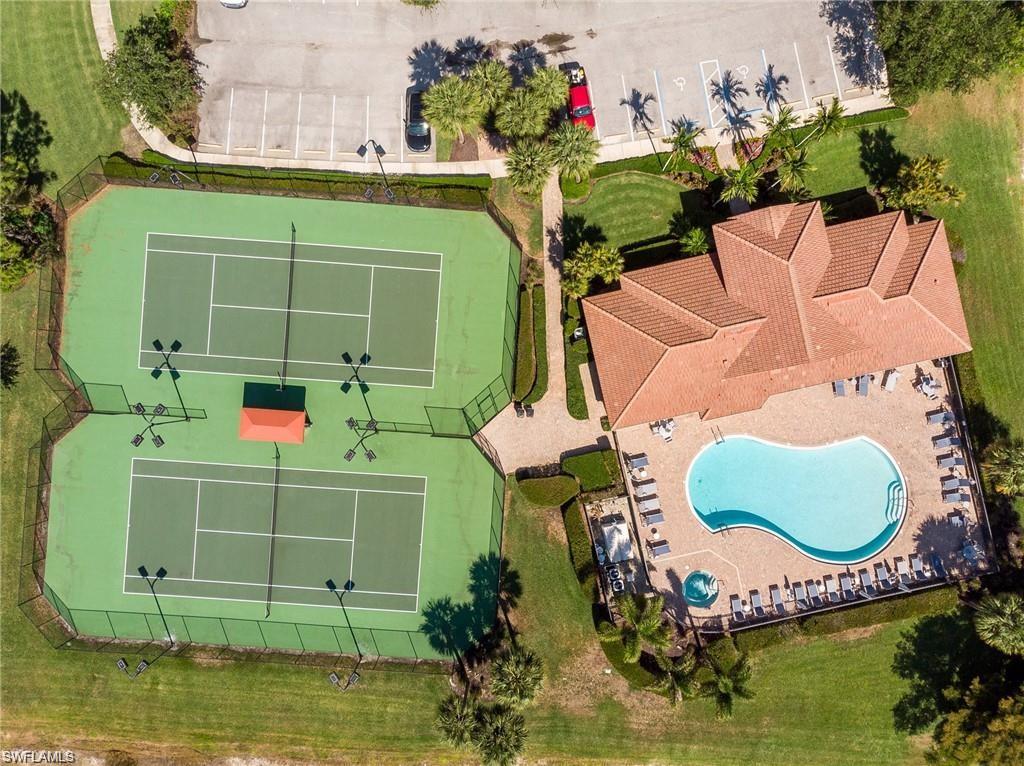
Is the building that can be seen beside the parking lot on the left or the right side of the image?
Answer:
right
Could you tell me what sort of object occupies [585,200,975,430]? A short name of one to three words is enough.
building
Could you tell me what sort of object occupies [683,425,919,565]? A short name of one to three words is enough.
swimming pool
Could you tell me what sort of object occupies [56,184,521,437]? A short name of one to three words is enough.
tennis court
